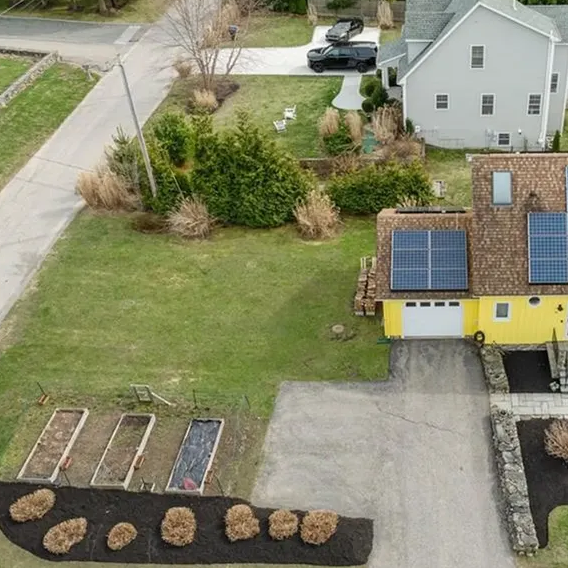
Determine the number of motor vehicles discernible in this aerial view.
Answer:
2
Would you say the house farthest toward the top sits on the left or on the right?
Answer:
right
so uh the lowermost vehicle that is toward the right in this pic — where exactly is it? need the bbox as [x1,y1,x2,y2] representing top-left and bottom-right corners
[310,40,377,69]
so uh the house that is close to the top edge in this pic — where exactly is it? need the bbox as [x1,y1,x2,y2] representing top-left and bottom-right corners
[372,0,568,148]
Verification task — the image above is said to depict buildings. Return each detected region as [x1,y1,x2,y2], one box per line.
[376,151,568,352]
[372,0,568,148]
